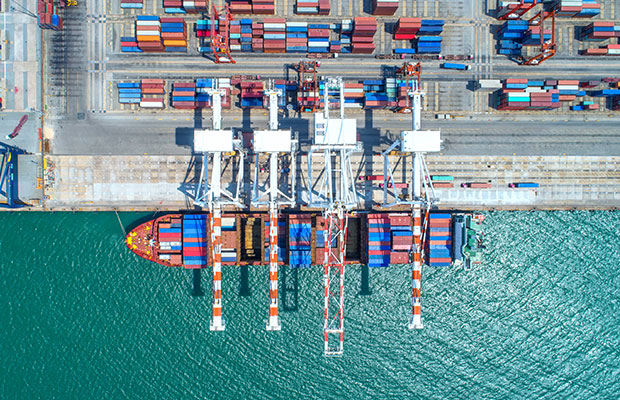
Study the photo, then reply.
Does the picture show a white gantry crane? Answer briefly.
Yes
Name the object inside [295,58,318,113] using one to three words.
crane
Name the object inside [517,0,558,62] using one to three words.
crane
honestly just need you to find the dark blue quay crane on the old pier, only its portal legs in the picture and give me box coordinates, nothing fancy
[0,141,41,209]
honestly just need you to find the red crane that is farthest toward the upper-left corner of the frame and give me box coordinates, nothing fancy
[210,0,237,60]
